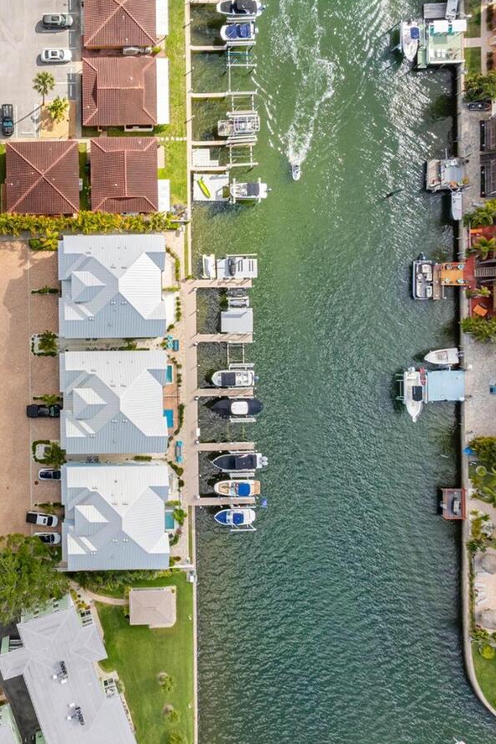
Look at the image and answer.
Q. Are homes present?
Yes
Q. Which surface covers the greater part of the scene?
water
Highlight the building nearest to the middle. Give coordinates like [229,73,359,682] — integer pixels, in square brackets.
[216,309,253,332]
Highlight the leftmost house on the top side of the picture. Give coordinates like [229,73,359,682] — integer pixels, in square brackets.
[4,139,80,215]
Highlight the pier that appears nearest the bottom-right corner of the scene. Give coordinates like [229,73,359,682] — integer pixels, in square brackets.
[437,486,466,520]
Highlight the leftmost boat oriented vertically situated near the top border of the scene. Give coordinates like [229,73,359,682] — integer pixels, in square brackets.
[401,16,419,60]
